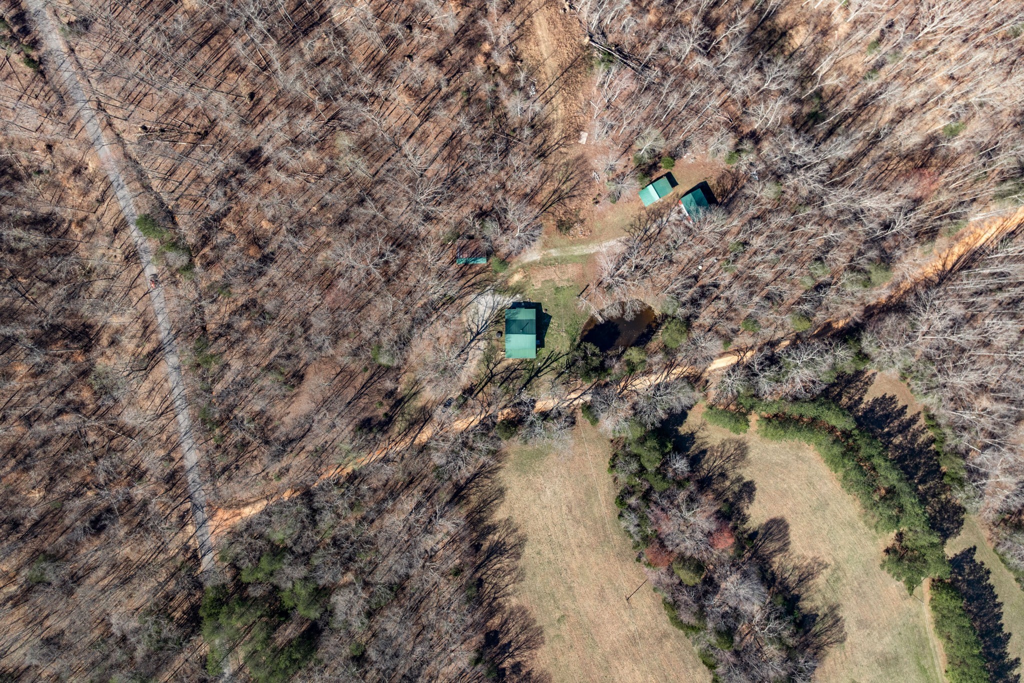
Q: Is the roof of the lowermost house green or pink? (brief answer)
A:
green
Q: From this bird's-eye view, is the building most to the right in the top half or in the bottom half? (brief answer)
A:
top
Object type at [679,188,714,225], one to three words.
building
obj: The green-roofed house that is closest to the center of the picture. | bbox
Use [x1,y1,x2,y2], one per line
[501,308,539,358]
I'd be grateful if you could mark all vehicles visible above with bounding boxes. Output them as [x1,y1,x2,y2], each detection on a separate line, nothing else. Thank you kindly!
[442,398,455,410]
[148,274,157,290]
